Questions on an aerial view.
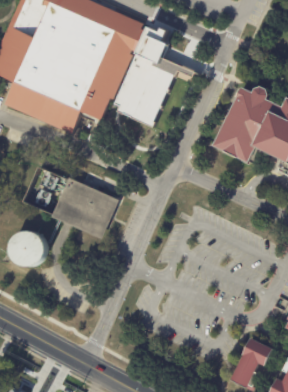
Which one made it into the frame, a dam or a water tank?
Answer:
water tank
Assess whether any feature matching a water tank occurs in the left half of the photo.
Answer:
Yes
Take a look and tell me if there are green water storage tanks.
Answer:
No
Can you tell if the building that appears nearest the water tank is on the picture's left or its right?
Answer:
left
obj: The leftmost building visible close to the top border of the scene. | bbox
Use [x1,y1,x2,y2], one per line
[0,0,144,133]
